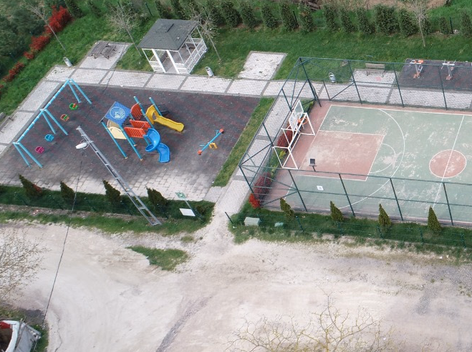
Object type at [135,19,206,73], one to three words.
gazebo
